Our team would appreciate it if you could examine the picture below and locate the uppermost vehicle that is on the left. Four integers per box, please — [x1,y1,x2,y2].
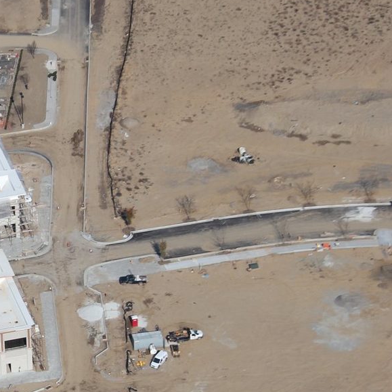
[117,273,149,286]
